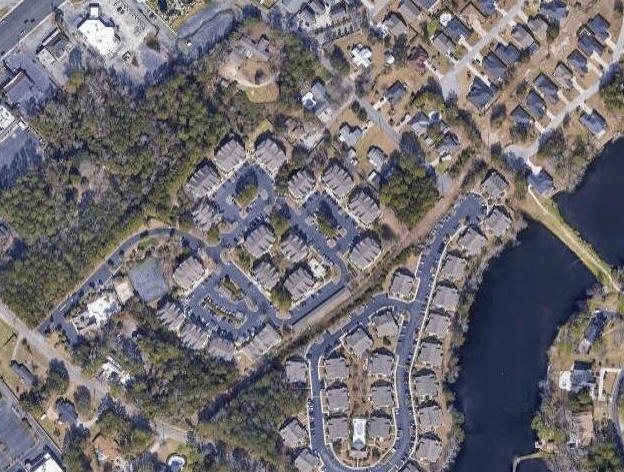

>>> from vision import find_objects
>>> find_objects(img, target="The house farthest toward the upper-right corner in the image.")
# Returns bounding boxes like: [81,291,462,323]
[588,14,611,39]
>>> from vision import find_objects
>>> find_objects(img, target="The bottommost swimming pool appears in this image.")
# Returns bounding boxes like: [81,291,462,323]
[167,453,186,470]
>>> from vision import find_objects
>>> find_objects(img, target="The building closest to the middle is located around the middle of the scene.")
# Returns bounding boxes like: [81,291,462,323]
[277,230,311,263]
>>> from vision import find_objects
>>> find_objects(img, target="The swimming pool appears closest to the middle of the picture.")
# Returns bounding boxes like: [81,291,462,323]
[309,258,326,276]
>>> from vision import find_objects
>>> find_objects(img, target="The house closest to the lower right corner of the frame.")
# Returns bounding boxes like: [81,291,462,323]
[575,409,593,444]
